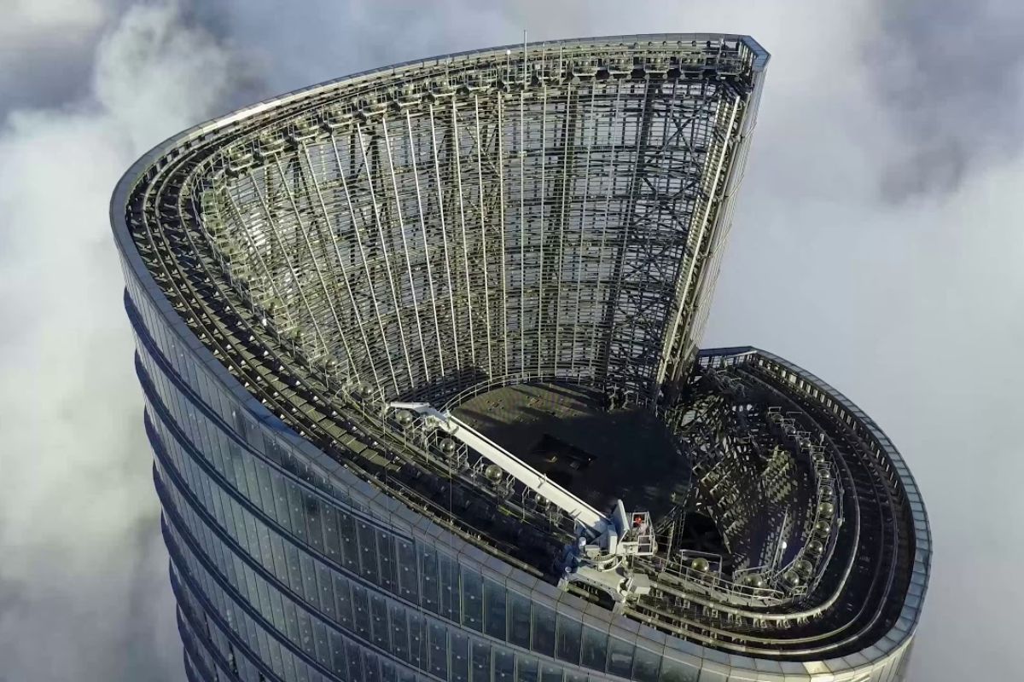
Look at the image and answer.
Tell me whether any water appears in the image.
Yes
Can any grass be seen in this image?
No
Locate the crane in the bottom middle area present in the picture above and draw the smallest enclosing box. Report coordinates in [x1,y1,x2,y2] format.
[384,400,657,678]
